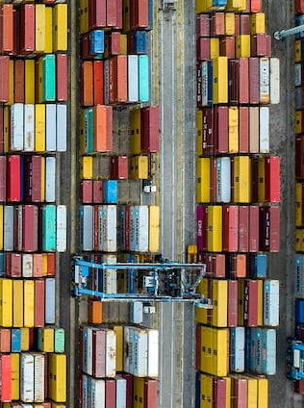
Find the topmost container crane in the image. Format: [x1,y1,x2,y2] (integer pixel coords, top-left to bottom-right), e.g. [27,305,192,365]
[73,250,211,302]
